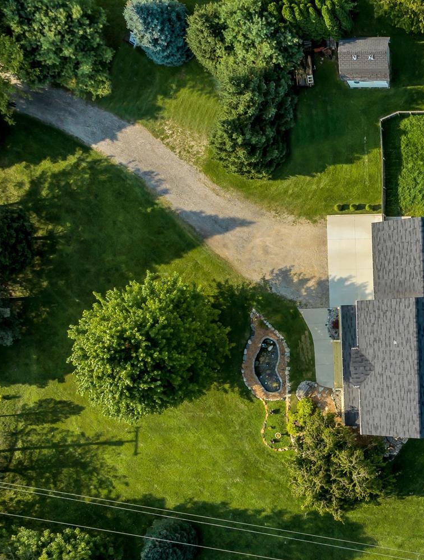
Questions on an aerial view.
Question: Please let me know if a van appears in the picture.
No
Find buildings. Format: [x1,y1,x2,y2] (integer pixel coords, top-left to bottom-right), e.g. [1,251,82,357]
[330,215,424,439]
[336,40,391,89]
